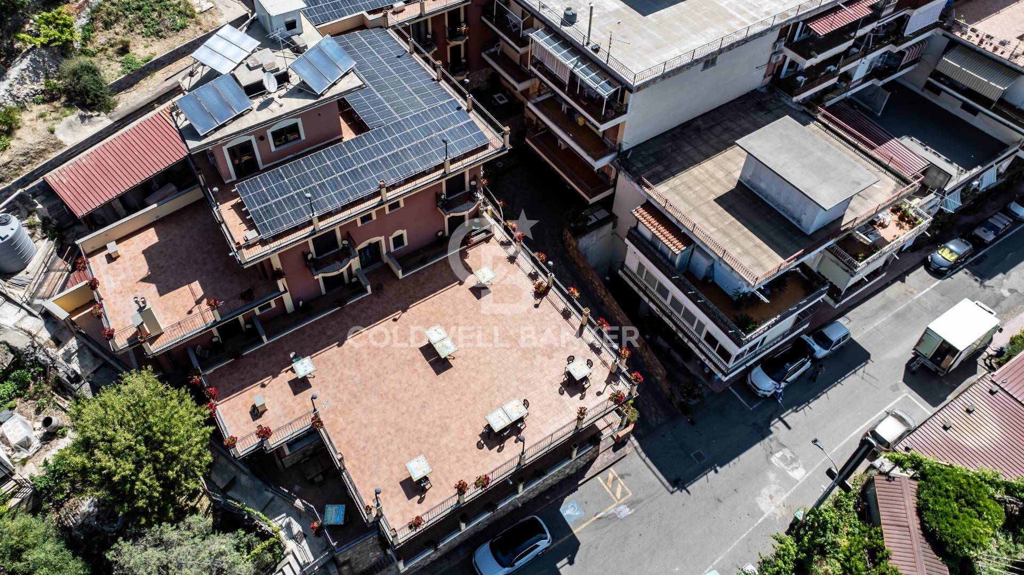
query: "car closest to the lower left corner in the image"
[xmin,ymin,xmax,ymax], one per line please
[467,514,554,575]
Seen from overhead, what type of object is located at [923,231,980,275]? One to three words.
car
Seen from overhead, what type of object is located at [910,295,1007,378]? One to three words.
truck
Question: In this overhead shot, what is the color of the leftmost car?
black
